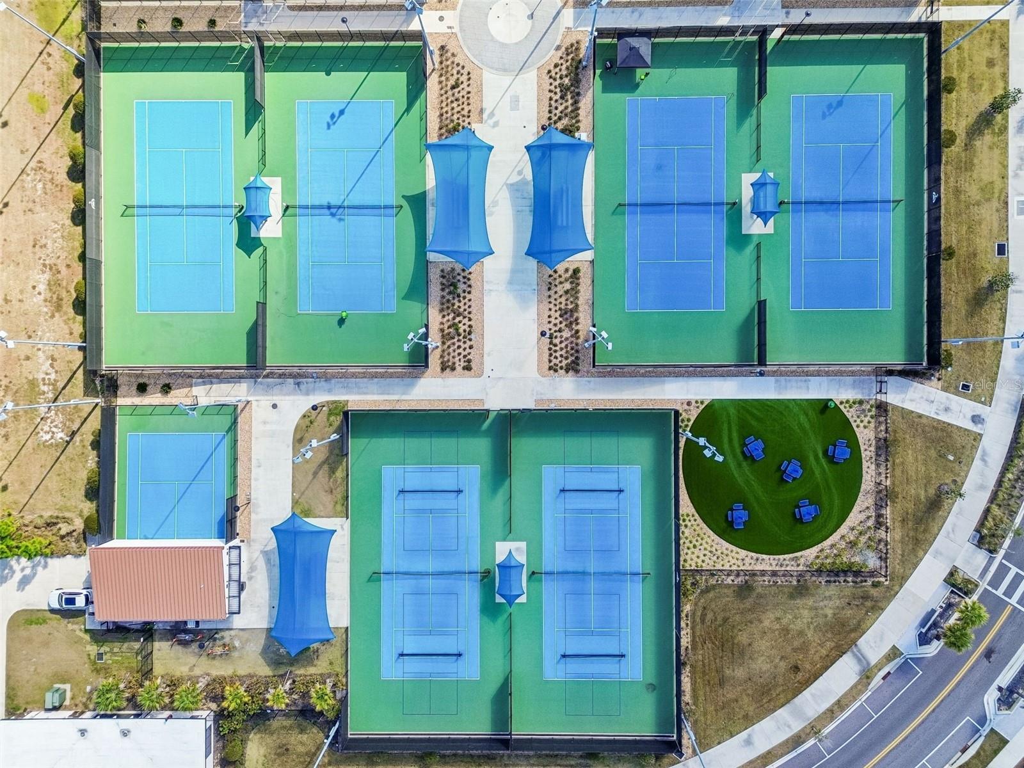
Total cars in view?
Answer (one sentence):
I count just 1 car.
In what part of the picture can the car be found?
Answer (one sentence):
The car sits in the bottom left section of the image.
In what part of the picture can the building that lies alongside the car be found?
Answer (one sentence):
You can find the building that lies alongside the car in the bottom left area of the picture.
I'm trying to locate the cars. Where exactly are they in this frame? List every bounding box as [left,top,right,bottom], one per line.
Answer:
[48,589,93,611]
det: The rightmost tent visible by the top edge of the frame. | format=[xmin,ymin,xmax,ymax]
[615,35,651,77]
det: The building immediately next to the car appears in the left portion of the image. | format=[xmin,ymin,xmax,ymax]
[89,539,241,621]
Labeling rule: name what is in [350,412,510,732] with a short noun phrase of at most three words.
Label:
tennis court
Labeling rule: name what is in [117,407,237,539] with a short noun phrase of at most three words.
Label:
tennis court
